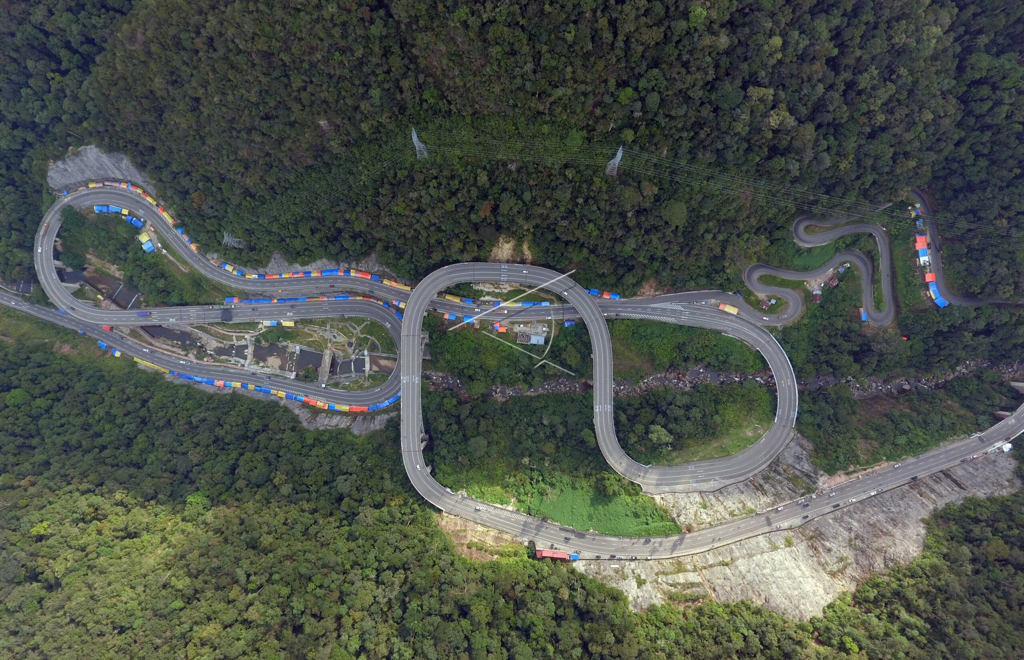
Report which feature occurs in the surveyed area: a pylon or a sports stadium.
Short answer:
pylon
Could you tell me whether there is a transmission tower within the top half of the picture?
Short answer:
Yes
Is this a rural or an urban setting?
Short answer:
rural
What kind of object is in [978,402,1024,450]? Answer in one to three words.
bridge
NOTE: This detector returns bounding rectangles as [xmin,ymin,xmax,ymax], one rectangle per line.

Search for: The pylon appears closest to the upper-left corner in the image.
[222,231,246,252]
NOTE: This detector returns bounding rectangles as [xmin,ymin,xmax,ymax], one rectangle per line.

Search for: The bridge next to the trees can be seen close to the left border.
[33,194,227,330]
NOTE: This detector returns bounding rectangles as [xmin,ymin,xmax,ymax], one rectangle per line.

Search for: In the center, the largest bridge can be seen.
[401,262,644,512]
